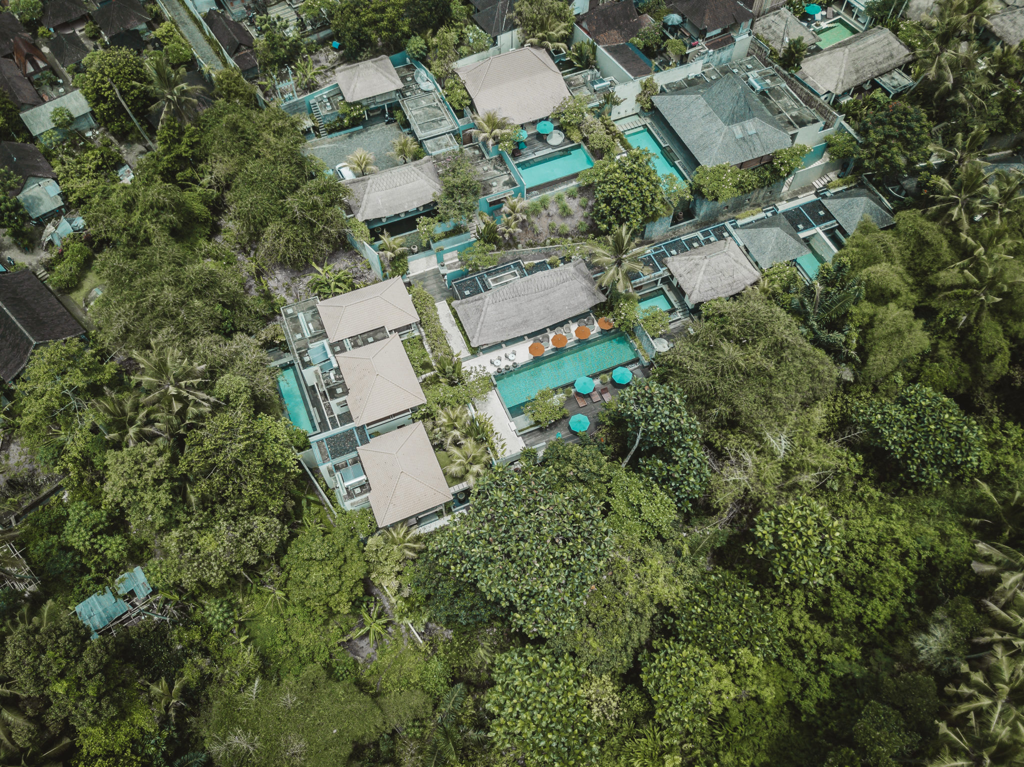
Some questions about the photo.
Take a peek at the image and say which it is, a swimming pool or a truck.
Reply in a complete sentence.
The one in the frame is a swimming pool.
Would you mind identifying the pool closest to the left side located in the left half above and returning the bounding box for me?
[274,362,318,442]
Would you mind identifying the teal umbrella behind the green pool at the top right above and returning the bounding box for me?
[804,6,821,23]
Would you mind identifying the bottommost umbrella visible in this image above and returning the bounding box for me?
[569,415,589,432]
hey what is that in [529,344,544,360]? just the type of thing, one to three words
umbrella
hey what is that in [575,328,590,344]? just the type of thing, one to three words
umbrella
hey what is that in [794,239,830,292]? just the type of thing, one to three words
swimming pool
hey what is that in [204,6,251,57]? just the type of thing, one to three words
house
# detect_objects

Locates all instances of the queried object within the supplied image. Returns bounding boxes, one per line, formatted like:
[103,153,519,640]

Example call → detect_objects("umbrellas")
[529,344,544,360]
[663,15,682,34]
[804,6,821,23]
[574,378,594,396]
[537,123,551,140]
[569,415,589,432]
[598,318,613,335]
[575,328,590,344]
[612,368,631,387]
[551,336,567,352]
